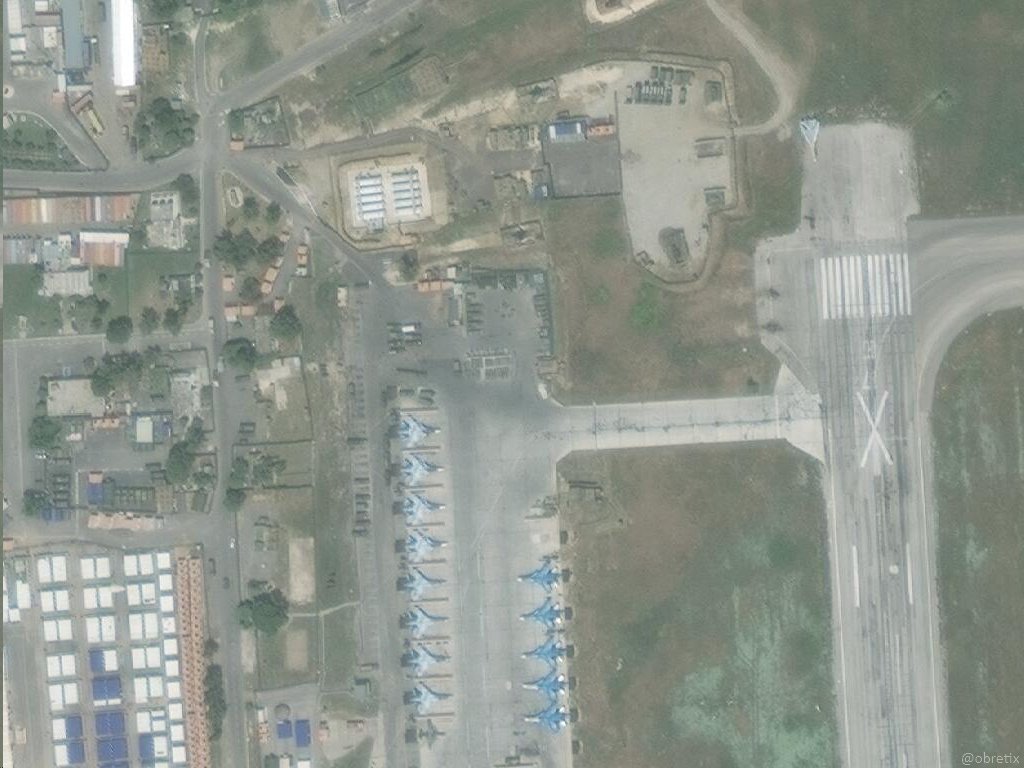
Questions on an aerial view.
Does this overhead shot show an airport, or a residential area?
airport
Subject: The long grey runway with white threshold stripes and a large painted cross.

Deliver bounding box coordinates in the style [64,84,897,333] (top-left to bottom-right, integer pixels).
[756,122,953,768]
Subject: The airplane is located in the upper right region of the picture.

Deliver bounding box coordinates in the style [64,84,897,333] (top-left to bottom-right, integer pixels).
[801,119,820,160]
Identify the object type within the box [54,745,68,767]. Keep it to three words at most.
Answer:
shed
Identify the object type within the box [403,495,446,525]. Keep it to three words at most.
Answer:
airplane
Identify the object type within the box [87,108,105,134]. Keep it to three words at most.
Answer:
vehicle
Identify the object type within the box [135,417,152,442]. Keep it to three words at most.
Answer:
building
